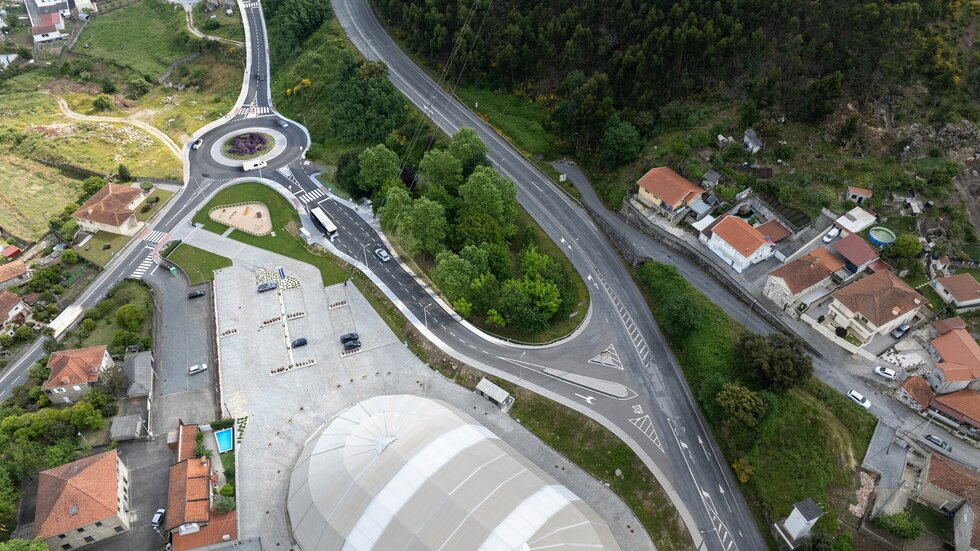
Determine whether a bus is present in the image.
Yes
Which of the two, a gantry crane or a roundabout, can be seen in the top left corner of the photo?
roundabout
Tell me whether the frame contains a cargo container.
No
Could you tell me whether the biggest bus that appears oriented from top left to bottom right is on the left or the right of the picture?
left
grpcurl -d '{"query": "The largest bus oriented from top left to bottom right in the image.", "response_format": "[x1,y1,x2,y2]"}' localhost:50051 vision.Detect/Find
[308,206,342,244]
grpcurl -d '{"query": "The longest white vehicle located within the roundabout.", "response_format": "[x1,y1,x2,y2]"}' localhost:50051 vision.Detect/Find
[243,156,268,170]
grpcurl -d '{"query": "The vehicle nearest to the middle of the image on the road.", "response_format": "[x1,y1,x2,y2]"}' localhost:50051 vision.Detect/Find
[372,245,391,259]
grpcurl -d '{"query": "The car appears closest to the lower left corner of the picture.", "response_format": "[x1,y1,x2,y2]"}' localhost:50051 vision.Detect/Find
[146,504,167,529]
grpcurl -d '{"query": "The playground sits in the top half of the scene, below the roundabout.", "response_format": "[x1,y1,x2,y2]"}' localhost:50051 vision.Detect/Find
[209,201,272,235]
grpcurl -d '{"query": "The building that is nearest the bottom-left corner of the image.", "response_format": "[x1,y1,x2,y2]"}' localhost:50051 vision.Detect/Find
[0,449,131,551]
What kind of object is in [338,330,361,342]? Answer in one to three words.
vehicle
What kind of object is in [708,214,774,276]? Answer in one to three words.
house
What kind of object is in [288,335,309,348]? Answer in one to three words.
vehicle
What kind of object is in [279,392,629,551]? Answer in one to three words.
building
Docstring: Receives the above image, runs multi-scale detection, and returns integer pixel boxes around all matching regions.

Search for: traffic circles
[189,115,308,185]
